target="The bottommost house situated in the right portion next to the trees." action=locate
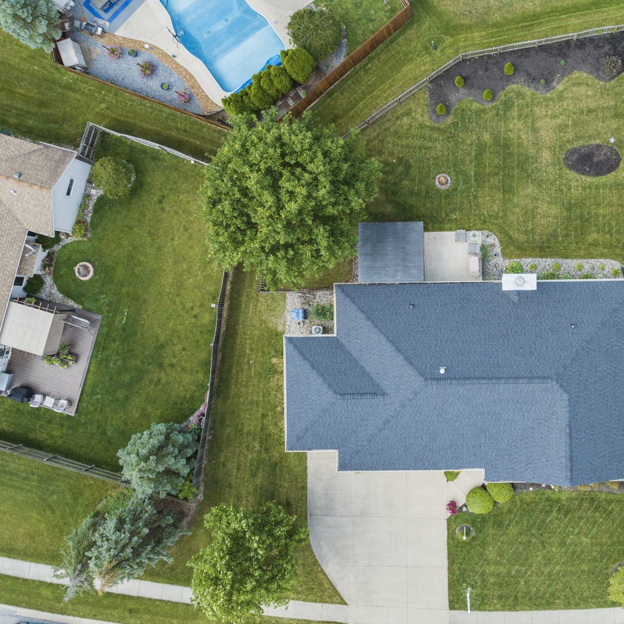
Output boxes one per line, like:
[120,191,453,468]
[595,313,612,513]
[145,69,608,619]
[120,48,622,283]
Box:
[283,274,624,495]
